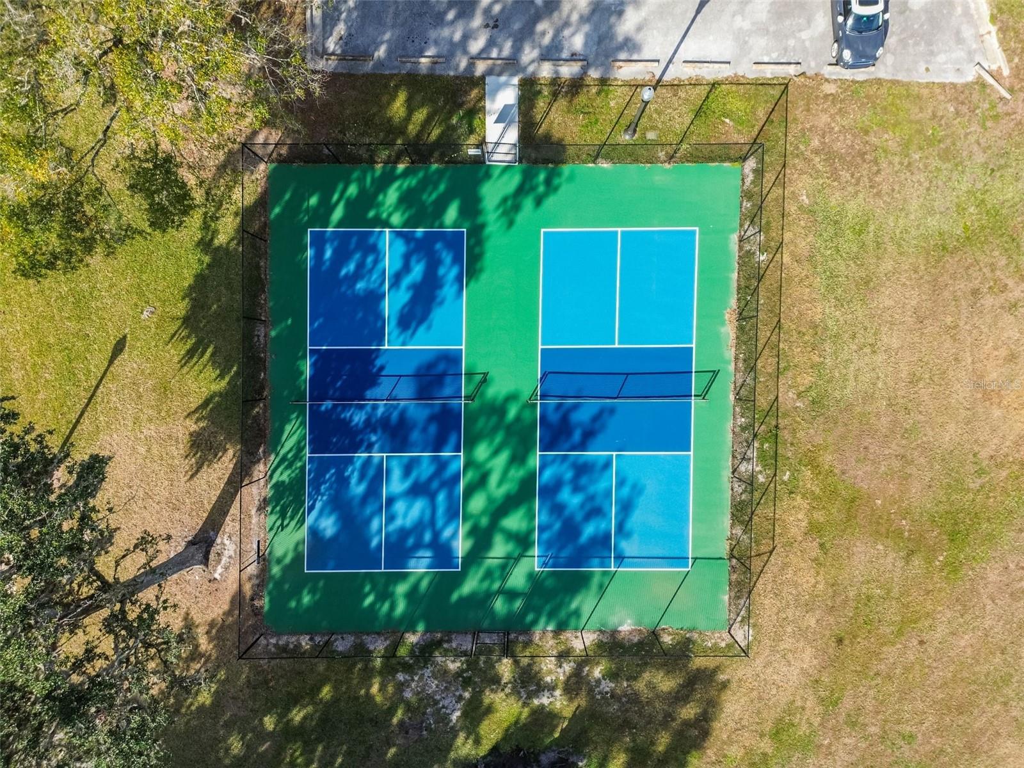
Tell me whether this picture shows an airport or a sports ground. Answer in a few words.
sports ground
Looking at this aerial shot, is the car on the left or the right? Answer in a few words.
right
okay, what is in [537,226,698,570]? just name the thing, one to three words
sports court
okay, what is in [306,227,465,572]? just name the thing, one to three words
sports court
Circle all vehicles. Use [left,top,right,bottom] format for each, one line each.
[829,0,891,68]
